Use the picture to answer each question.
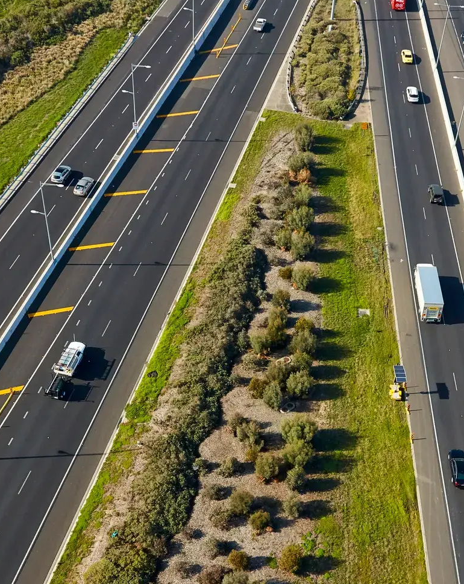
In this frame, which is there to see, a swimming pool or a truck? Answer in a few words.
truck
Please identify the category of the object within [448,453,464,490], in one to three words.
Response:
car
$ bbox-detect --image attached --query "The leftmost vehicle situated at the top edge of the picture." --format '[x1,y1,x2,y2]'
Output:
[253,19,266,32]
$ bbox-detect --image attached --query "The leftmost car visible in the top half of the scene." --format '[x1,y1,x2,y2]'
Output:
[49,167,71,185]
